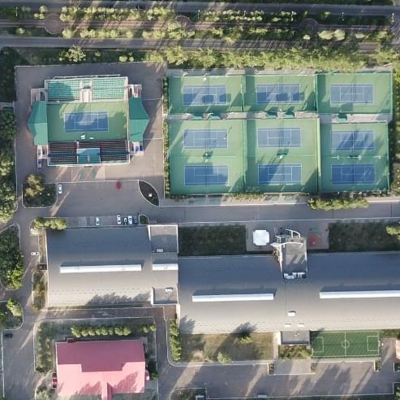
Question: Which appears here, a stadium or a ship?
stadium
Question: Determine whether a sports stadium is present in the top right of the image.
No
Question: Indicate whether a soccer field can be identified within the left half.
No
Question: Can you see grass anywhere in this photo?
Yes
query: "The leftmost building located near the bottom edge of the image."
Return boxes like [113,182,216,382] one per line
[52,337,150,400]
